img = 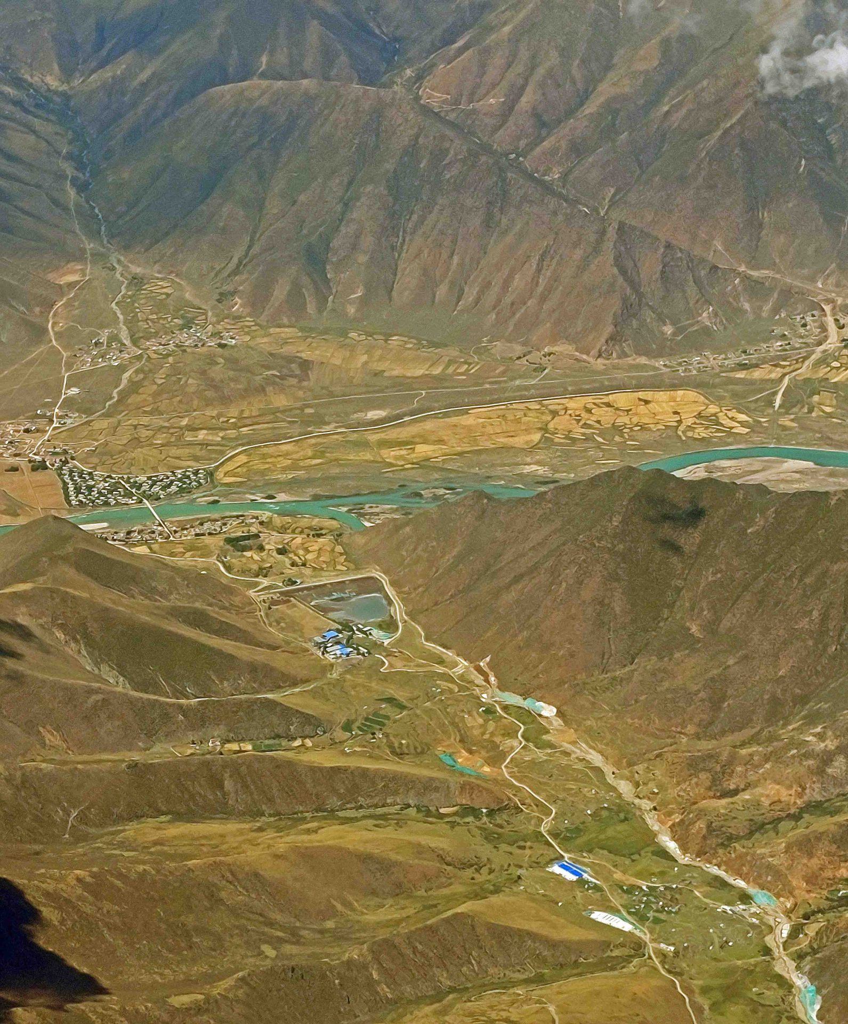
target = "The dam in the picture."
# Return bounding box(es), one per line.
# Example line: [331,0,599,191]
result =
[255,572,373,595]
